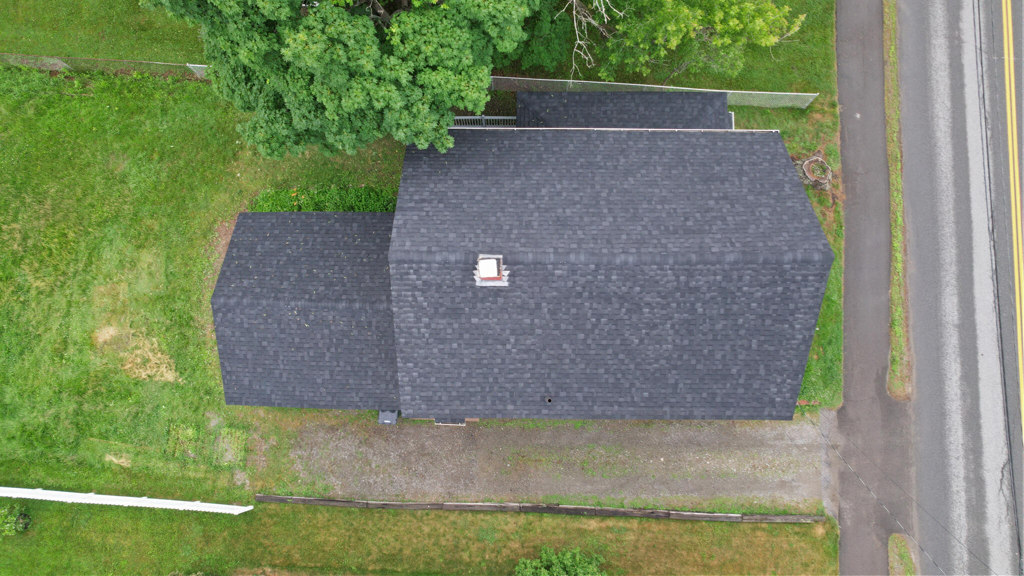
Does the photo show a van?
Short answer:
No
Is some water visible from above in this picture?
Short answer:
No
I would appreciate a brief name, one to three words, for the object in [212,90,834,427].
house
